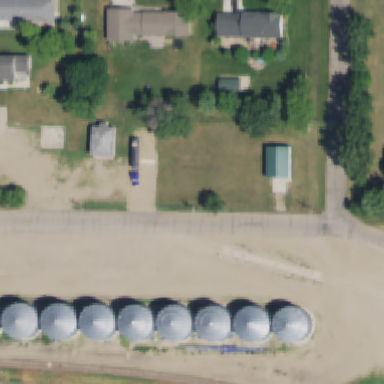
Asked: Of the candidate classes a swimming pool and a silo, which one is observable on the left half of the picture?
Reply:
silo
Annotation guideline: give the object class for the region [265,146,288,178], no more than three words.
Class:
shed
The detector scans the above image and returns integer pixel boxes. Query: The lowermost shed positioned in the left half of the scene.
[90,121,115,156]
